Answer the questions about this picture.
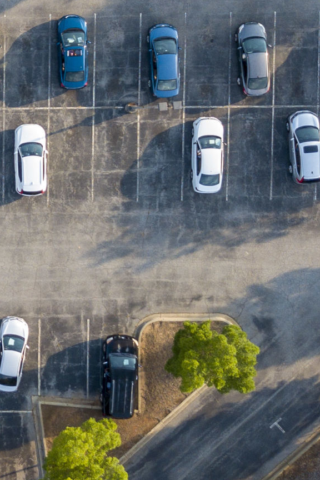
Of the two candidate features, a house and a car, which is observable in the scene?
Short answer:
car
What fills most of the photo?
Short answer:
paved ground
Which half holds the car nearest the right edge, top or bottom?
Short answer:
top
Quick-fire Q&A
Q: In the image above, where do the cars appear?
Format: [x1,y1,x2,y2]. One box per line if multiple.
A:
[13,124,51,196]
[235,22,275,96]
[54,14,93,89]
[102,333,142,420]
[287,110,320,184]
[146,23,184,98]
[0,316,32,393]
[189,116,230,194]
